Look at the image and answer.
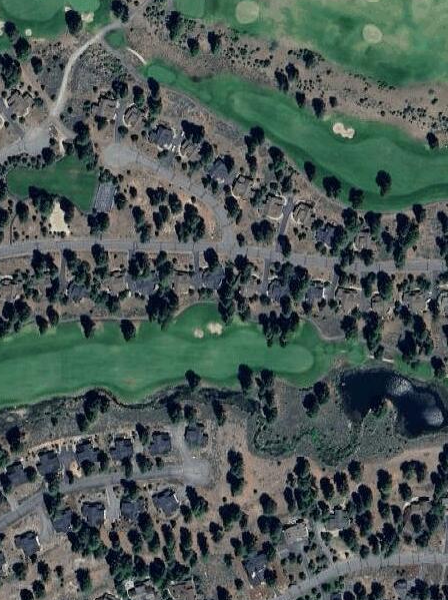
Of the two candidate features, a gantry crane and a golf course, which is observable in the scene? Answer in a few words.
golf course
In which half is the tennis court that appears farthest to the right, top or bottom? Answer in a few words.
top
